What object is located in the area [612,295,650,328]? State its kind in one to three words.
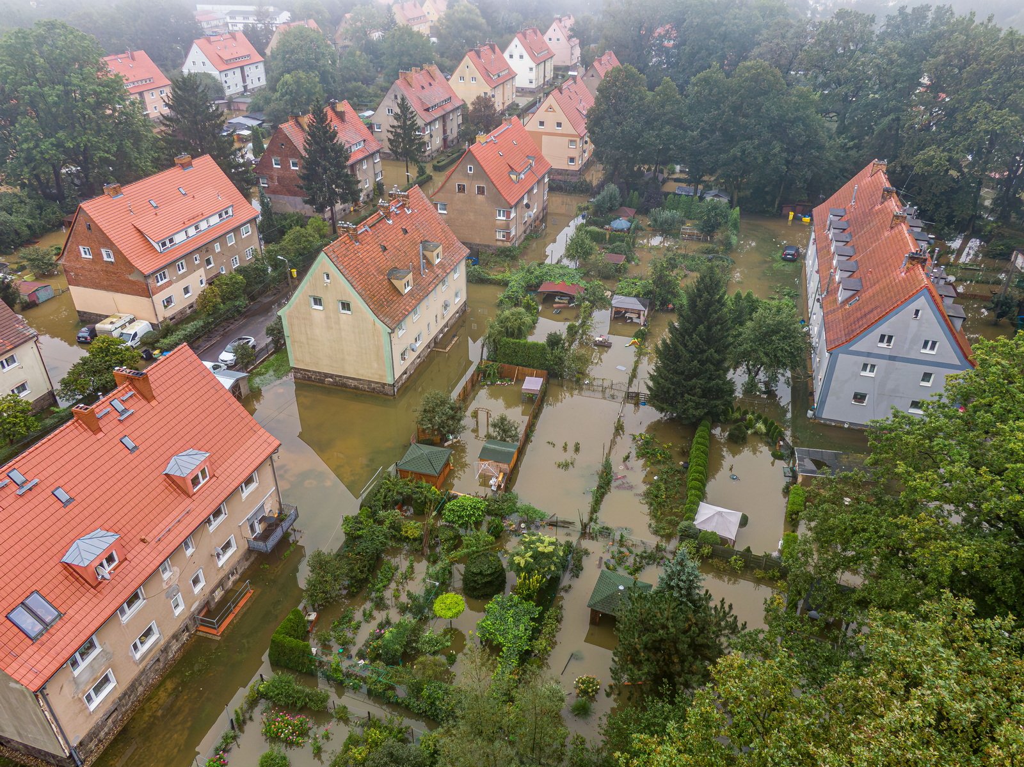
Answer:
gazebo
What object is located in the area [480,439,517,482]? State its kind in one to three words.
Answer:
shed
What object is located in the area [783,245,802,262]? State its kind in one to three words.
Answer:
car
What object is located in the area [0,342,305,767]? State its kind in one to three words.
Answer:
house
